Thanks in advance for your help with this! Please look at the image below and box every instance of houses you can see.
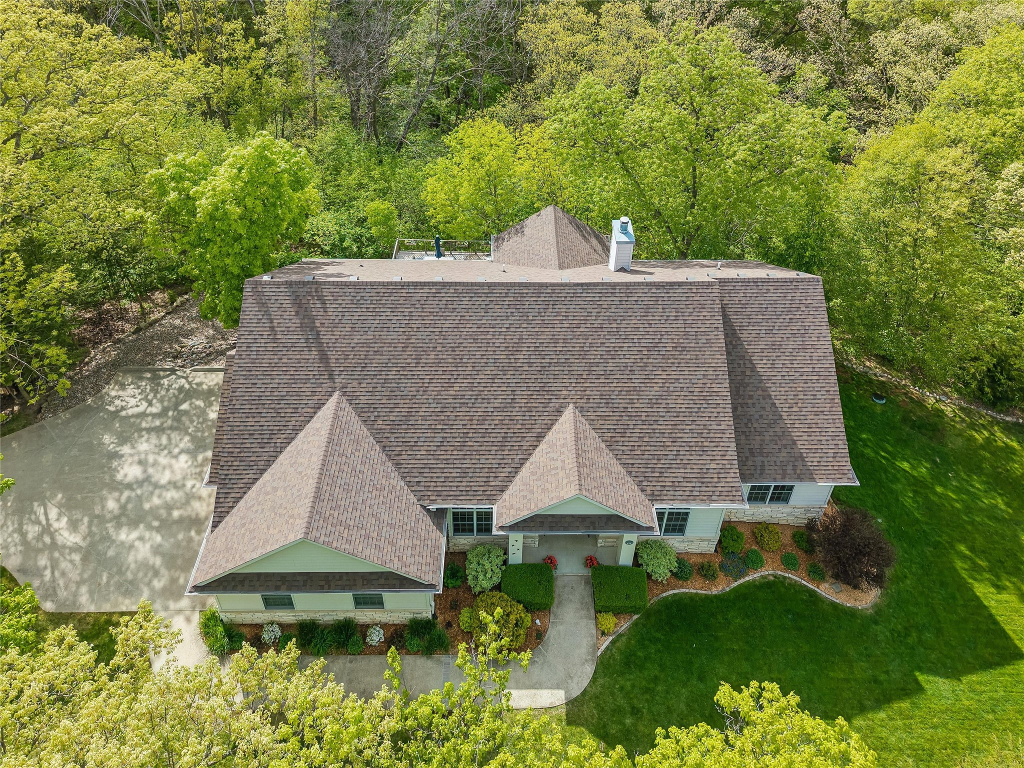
[188,204,857,637]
